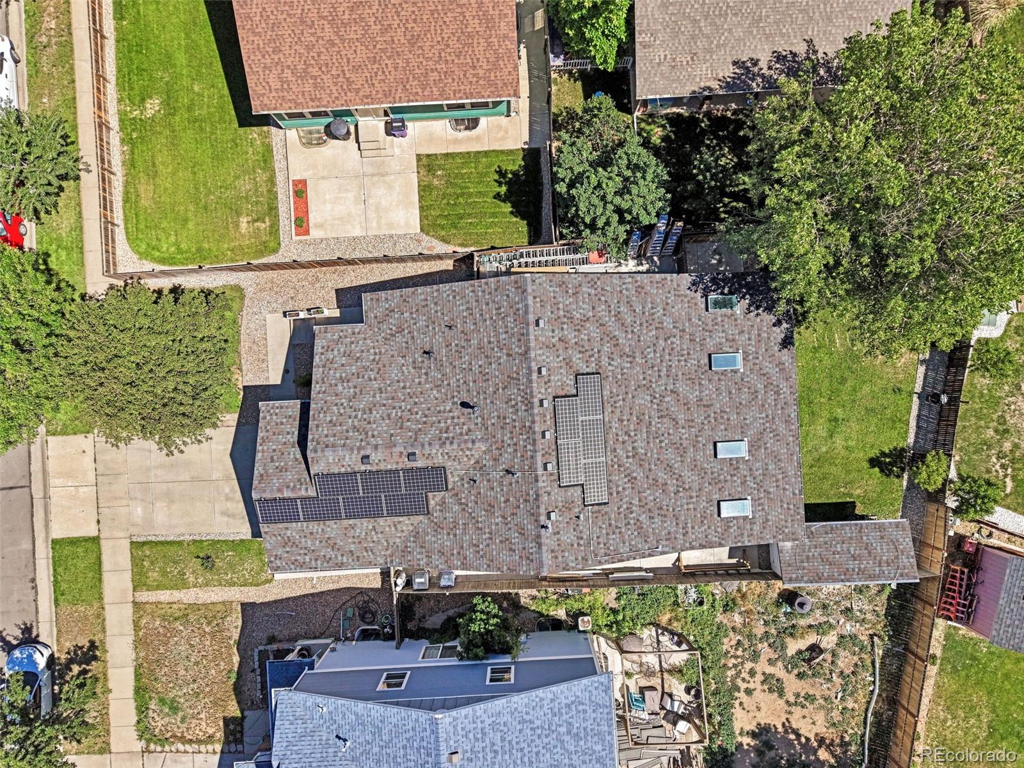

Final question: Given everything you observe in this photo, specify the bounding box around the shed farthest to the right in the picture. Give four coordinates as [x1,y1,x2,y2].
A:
[966,548,1024,654]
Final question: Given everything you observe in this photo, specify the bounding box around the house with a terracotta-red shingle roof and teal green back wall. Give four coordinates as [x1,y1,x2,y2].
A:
[235,0,518,127]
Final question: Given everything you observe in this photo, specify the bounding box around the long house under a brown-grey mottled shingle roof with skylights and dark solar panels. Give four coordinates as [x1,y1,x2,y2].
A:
[253,270,808,575]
